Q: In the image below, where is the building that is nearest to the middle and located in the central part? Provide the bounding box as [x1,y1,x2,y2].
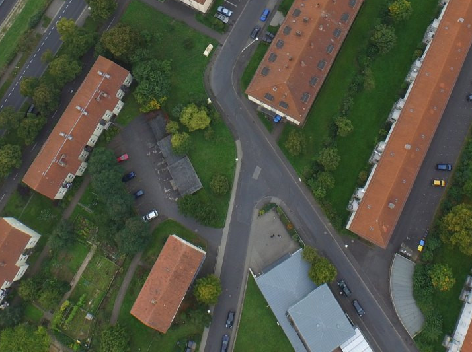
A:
[168,156,203,196]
